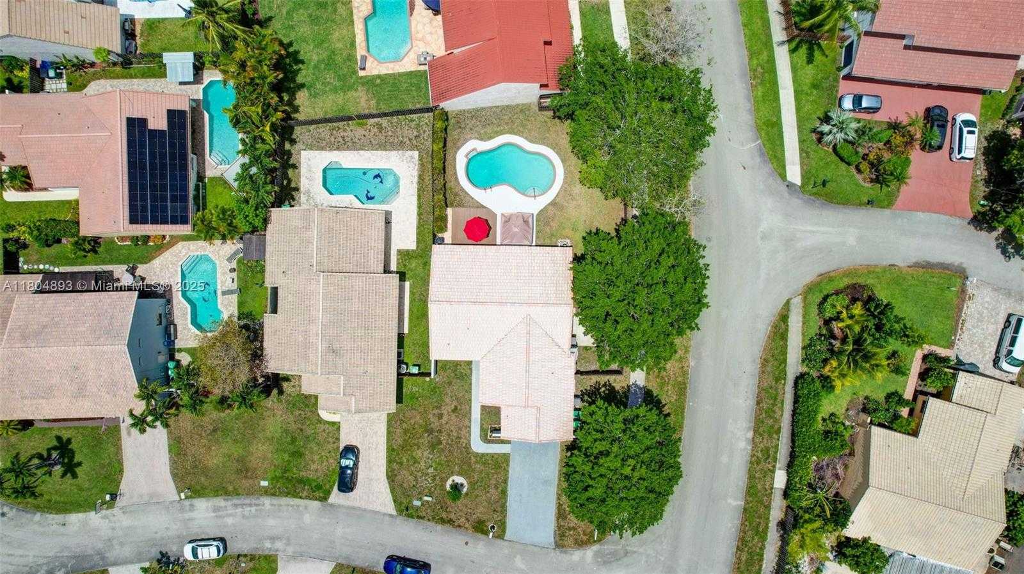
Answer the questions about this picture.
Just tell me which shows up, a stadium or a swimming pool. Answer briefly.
swimming pool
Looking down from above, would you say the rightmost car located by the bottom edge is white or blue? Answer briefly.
blue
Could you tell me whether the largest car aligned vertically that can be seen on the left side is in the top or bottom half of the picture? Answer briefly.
bottom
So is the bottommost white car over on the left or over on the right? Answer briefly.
left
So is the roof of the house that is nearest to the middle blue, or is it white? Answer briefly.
white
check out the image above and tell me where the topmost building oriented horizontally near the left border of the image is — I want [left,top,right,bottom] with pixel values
[0,0,131,60]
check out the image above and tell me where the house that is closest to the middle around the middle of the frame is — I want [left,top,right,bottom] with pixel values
[427,243,575,444]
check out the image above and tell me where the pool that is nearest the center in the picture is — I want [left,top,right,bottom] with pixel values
[464,141,557,198]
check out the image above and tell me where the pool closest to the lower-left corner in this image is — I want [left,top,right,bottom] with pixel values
[178,253,225,334]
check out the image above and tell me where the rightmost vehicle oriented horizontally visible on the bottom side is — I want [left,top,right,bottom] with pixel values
[384,553,432,574]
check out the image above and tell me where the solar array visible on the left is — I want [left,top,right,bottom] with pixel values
[126,109,189,224]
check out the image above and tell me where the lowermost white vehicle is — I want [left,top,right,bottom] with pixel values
[181,537,229,564]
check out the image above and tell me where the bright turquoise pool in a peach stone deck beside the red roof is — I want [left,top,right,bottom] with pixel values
[362,0,413,64]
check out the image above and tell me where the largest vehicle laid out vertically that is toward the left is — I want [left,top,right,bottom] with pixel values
[336,444,359,494]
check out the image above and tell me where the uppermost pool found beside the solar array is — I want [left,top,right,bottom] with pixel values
[200,77,242,167]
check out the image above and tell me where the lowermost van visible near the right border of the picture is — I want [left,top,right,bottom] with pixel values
[995,315,1024,372]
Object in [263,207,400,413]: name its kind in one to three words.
house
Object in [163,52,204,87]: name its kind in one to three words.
shed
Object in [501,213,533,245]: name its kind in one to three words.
gazebo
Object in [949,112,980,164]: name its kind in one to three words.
car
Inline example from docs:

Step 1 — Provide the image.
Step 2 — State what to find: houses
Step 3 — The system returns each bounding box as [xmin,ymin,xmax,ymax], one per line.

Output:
[839,0,1024,92]
[428,0,573,109]
[263,207,400,413]
[0,0,131,60]
[832,371,1024,574]
[0,89,200,235]
[0,275,168,420]
[427,243,575,444]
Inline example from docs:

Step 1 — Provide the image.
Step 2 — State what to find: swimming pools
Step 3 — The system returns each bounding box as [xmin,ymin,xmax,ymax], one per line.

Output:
[200,77,242,167]
[362,0,413,64]
[178,253,225,334]
[464,141,557,198]
[320,159,402,207]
